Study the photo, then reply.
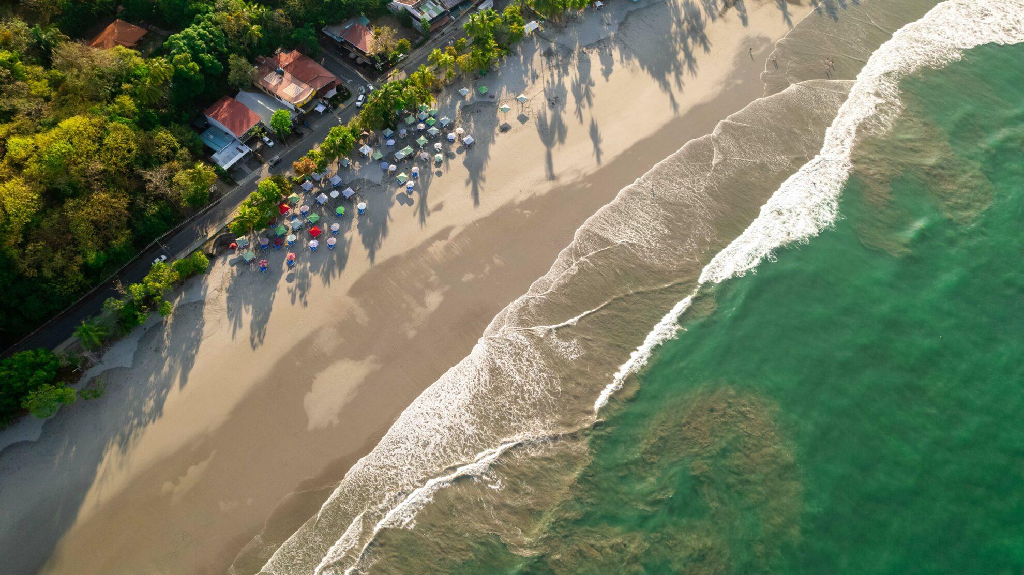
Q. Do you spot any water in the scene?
Yes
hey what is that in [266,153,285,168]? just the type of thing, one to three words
vehicle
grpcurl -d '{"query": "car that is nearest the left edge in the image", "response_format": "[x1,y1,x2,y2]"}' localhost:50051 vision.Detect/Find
[150,253,169,267]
